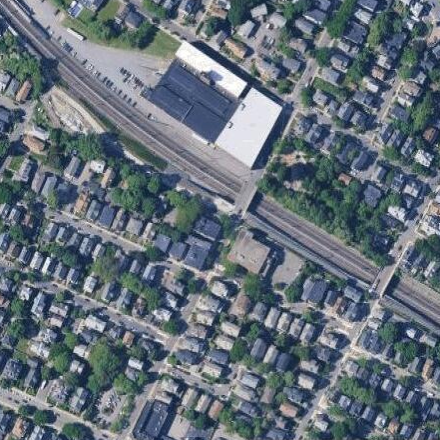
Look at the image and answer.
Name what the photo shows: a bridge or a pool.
bridge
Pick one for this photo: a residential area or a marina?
residential area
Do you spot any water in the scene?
No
